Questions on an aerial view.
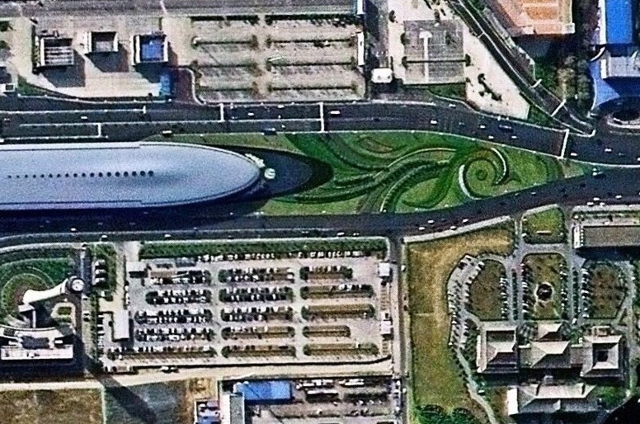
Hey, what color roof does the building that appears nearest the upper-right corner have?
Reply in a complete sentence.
From above, the roof of the building that appears nearest the upper-right corner looks blue.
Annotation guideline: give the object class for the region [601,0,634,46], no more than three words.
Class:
building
